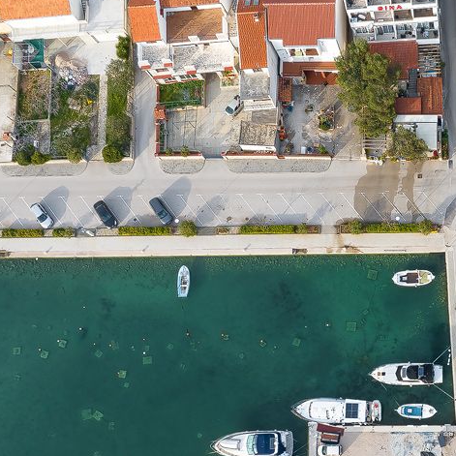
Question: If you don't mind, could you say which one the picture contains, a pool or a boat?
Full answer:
Visible in the photo is a boat.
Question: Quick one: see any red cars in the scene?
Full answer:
No, there is no red car in the image.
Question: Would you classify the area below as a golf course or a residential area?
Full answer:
It's a residential area.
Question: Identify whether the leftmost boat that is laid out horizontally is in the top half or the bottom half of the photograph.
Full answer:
The leftmost boat that is laid out horizontally sits in the bottom half of the picture.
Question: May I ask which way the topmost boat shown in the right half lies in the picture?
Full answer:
The topmost boat shown in the right half is oriented from left to right.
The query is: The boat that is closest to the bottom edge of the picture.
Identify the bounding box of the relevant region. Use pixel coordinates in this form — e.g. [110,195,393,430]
[197,429,304,456]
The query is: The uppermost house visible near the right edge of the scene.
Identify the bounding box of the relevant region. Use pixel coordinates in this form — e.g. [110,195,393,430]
[340,0,442,84]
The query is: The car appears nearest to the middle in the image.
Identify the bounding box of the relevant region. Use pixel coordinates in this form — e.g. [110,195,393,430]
[146,195,176,227]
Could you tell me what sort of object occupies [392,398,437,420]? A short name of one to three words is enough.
boat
